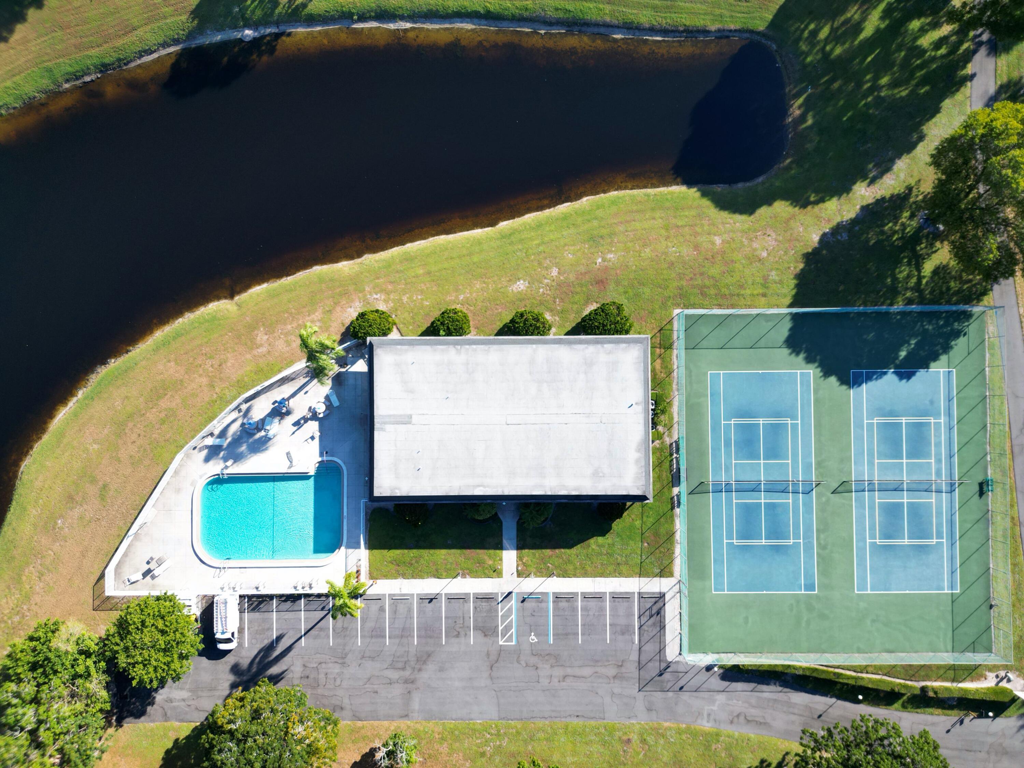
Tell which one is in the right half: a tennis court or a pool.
tennis court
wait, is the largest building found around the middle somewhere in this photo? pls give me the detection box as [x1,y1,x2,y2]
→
[365,335,652,505]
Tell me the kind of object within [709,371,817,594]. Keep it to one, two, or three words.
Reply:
tennis court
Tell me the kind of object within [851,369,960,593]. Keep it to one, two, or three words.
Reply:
tennis court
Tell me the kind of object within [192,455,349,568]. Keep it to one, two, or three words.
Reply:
swimming pool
